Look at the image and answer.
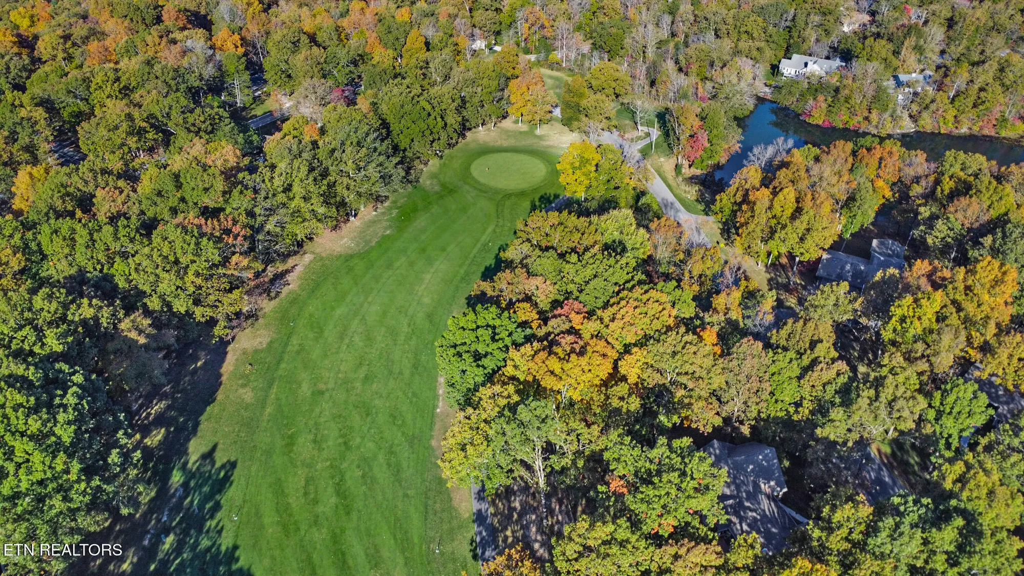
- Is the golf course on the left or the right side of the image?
left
